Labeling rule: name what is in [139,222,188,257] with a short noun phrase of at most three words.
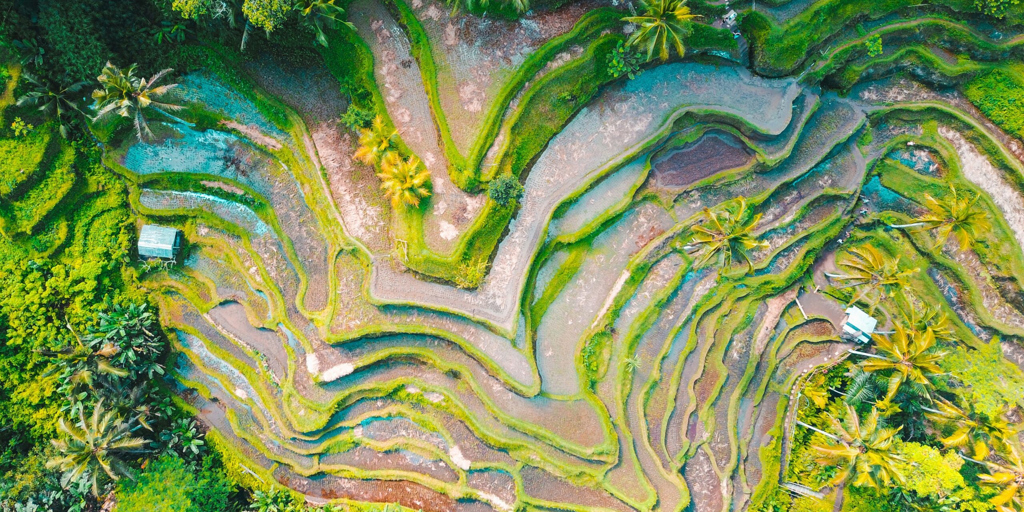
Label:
shed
